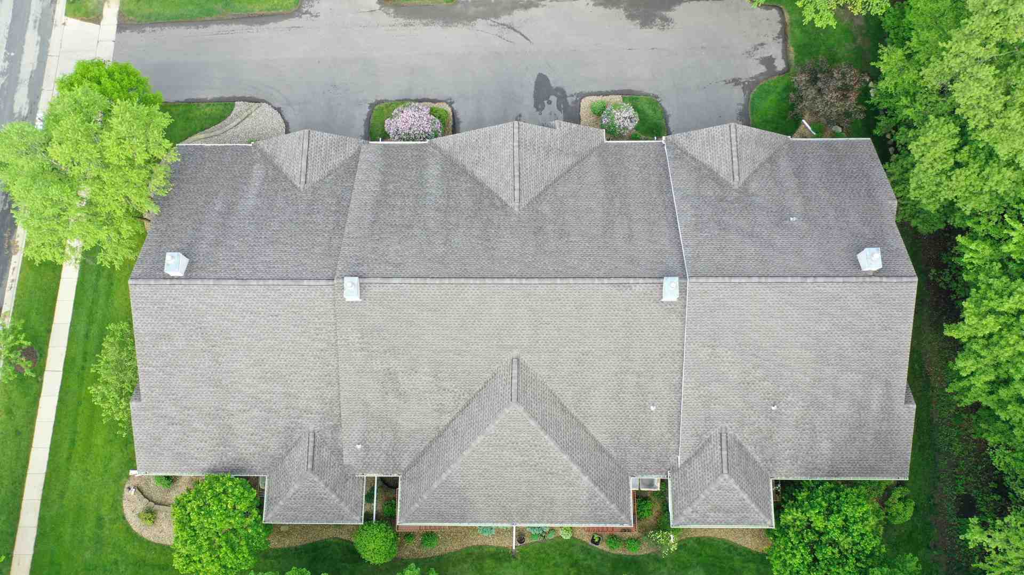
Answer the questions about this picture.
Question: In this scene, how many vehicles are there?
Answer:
zero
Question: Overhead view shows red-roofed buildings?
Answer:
No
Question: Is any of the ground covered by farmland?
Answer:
No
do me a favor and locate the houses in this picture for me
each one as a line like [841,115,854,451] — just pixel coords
[129,119,918,553]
